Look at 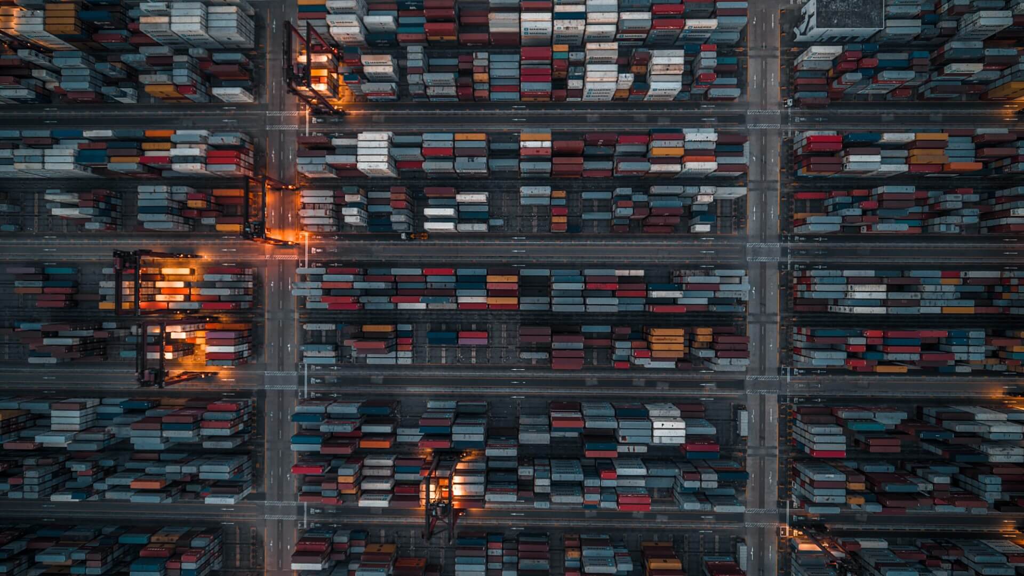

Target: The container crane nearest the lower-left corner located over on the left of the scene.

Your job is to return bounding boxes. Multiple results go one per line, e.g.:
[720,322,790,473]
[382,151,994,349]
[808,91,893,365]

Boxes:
[140,315,218,389]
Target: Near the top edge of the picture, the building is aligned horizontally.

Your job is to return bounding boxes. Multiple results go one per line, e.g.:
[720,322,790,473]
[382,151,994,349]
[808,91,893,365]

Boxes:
[794,0,884,41]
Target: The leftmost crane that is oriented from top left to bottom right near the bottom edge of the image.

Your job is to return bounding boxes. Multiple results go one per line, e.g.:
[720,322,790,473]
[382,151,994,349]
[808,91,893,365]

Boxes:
[790,532,861,576]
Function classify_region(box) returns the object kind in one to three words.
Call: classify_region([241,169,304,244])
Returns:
container crane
